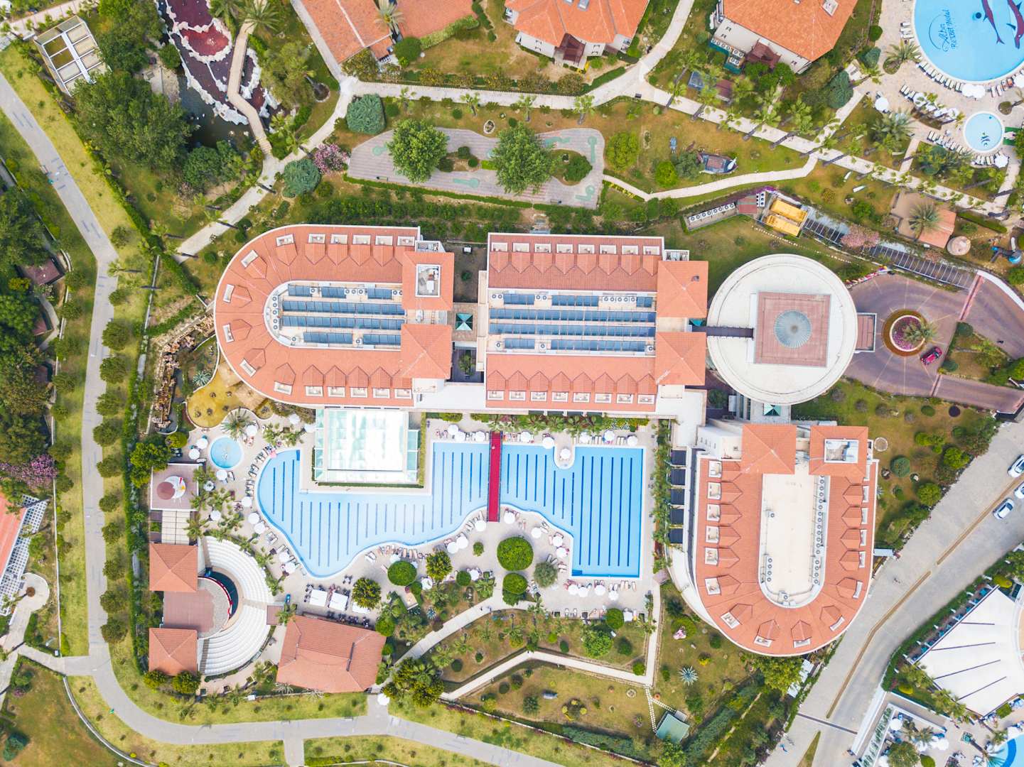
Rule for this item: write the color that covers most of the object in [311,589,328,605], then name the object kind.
white umbrella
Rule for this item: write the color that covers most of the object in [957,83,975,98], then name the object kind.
white umbrella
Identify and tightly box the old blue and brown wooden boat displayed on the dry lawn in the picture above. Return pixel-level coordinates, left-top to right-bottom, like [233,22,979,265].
[700,154,735,170]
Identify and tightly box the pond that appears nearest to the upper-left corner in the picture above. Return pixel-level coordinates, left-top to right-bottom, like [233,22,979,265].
[153,0,273,149]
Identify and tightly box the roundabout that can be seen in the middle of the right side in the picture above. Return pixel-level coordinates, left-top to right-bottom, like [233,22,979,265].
[883,310,928,356]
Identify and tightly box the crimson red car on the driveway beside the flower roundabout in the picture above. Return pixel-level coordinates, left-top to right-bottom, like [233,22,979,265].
[916,344,943,367]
